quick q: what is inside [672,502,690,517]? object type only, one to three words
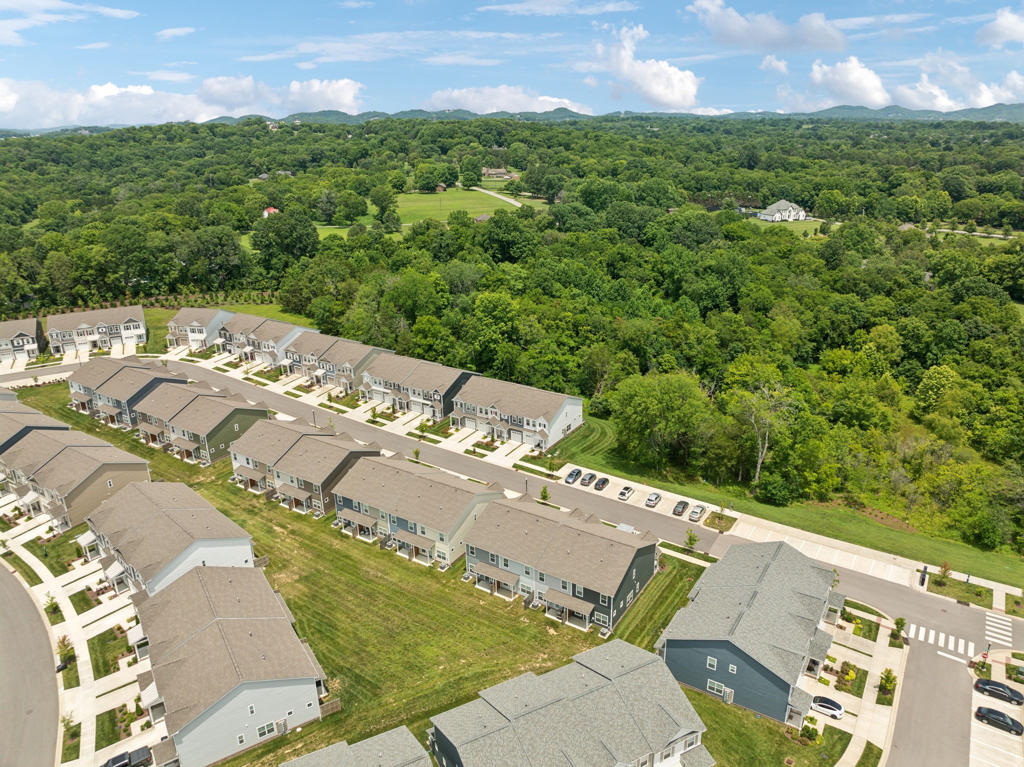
car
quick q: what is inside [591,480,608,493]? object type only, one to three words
vehicle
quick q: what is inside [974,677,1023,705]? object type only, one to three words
car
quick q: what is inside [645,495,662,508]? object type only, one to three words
vehicle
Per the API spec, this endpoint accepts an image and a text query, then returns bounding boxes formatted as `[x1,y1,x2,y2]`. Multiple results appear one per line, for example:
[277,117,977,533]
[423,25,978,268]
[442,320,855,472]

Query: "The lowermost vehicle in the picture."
[92,741,154,767]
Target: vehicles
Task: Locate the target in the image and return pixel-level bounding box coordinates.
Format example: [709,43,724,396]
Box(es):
[617,487,635,501]
[566,472,585,486]
[687,506,704,521]
[645,495,662,508]
[973,705,1024,735]
[92,741,154,767]
[672,502,690,517]
[809,695,852,722]
[974,677,1023,705]
[591,480,608,493]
